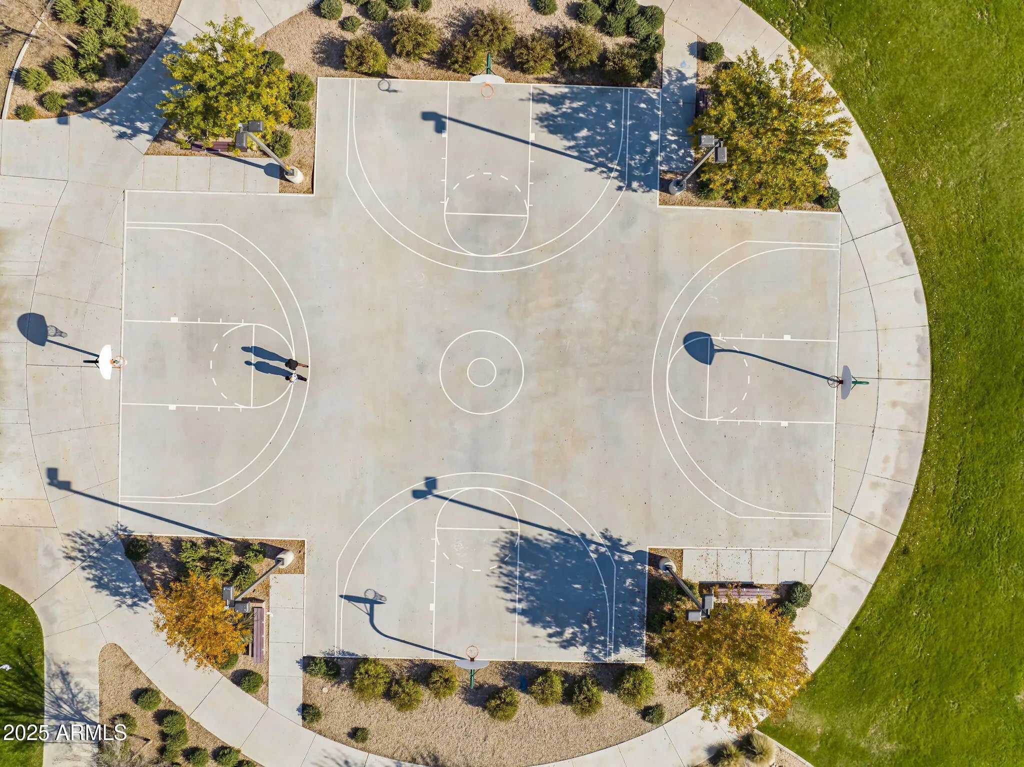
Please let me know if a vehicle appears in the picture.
No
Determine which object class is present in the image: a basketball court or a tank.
basketball court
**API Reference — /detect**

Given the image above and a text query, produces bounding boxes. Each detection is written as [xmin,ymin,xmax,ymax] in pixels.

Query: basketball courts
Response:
[119,78,841,663]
